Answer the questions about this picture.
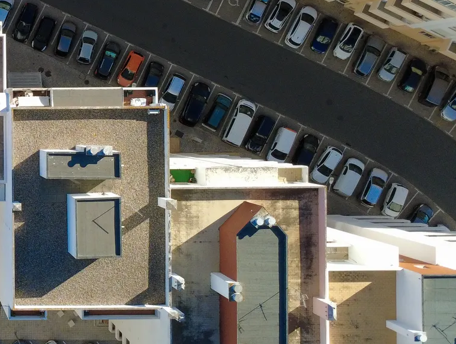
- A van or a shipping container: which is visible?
van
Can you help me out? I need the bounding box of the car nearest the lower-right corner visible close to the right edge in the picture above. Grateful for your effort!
[409,197,437,223]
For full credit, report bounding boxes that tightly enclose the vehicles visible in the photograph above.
[11,0,40,43]
[379,181,408,215]
[179,85,209,124]
[52,20,79,60]
[333,157,363,196]
[285,6,315,49]
[202,89,232,135]
[93,40,121,81]
[138,58,166,88]
[288,129,319,168]
[159,73,188,110]
[311,146,340,183]
[332,22,362,60]
[409,197,437,223]
[265,0,294,33]
[116,49,144,88]
[0,0,15,28]
[396,59,427,95]
[72,25,101,67]
[307,14,339,56]
[223,101,254,146]
[245,114,273,153]
[30,14,56,52]
[358,167,387,207]
[244,0,272,25]
[375,46,406,85]
[265,123,298,163]
[438,83,456,123]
